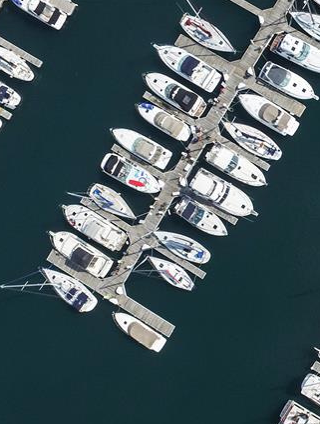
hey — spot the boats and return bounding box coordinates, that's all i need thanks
[283,404,320,424]
[0,52,39,85]
[170,195,231,238]
[215,108,283,161]
[198,143,270,187]
[109,128,185,176]
[48,231,118,284]
[0,267,98,317]
[180,0,250,65]
[79,183,152,231]
[268,26,320,73]
[251,55,318,101]
[101,154,168,198]
[135,242,197,293]
[185,167,258,216]
[300,376,320,406]
[61,204,133,260]
[107,296,168,352]
[141,72,214,124]
[133,100,194,150]
[280,0,320,41]
[137,223,212,265]
[234,84,300,137]
[9,0,66,30]
[154,45,231,102]
[0,82,22,107]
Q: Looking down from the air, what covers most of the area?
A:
water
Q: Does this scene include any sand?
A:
No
